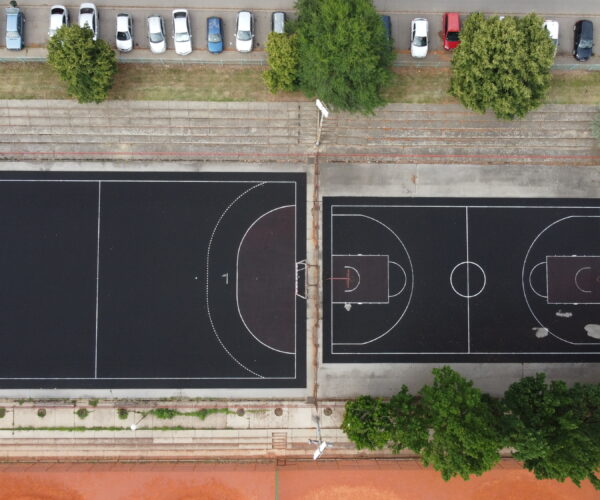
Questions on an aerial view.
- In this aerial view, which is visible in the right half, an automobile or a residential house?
automobile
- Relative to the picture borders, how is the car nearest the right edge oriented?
vertically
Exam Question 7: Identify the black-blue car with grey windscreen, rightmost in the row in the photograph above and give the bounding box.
[572,18,595,63]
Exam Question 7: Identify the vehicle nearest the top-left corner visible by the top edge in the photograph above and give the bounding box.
[4,3,27,52]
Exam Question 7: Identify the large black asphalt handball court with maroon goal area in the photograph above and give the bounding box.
[0,171,306,389]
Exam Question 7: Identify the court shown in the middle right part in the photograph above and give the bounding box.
[323,196,600,363]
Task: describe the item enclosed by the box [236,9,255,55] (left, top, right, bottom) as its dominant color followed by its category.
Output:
white car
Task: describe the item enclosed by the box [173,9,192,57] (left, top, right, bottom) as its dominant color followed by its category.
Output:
white car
